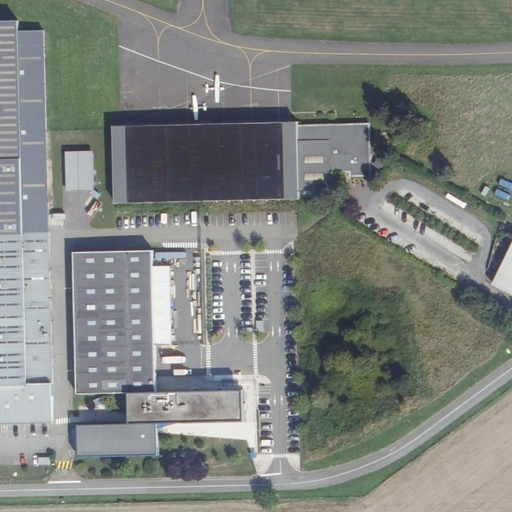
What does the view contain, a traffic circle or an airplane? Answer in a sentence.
I can see an airplane in this picture.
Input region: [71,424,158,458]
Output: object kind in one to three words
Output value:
building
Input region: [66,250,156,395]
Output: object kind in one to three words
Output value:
building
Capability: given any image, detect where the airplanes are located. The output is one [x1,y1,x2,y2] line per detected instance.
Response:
[204,74,224,102]
[190,94,208,120]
